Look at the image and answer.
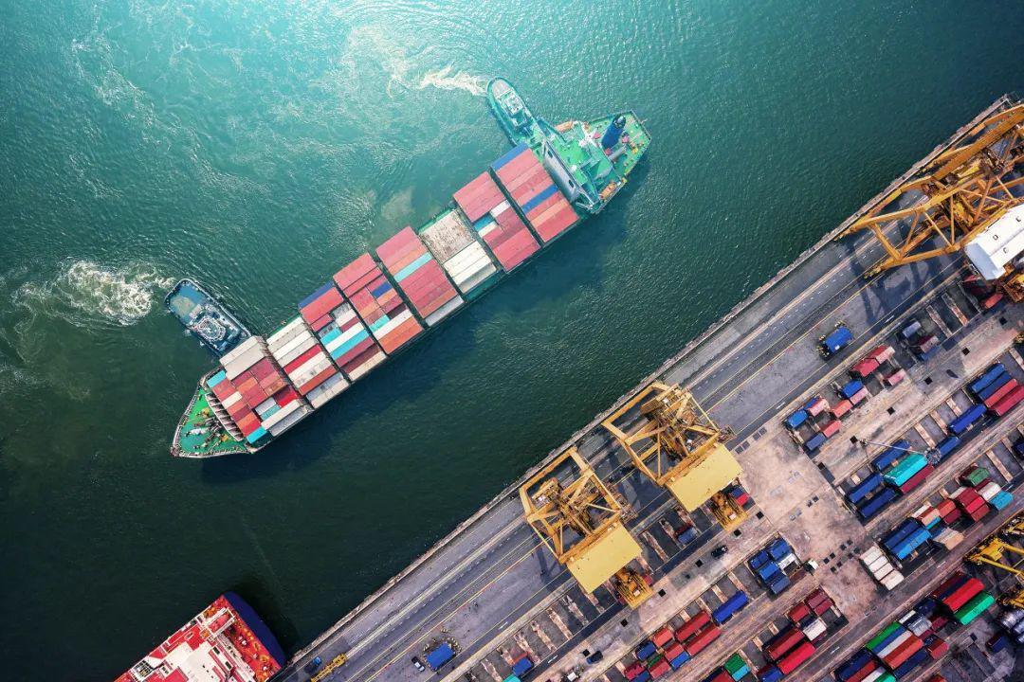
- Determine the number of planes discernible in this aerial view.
0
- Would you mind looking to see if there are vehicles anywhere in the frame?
Yes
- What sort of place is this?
port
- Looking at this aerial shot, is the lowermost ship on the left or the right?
left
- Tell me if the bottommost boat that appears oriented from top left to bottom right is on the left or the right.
left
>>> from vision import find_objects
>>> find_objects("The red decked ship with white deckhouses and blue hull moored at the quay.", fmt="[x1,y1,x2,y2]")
[114,590,286,682]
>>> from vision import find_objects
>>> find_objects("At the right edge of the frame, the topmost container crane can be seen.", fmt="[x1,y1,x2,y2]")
[929,101,1024,200]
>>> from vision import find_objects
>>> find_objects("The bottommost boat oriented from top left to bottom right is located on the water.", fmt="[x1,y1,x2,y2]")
[164,279,247,354]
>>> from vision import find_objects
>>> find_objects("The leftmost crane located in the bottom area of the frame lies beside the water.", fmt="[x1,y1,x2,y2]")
[517,444,663,623]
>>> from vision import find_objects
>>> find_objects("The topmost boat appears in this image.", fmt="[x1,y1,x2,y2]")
[487,71,542,145]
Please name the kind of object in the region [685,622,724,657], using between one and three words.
shipping container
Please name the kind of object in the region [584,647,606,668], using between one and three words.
truck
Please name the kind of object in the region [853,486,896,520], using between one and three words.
shipping container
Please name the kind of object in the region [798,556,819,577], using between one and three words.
truck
